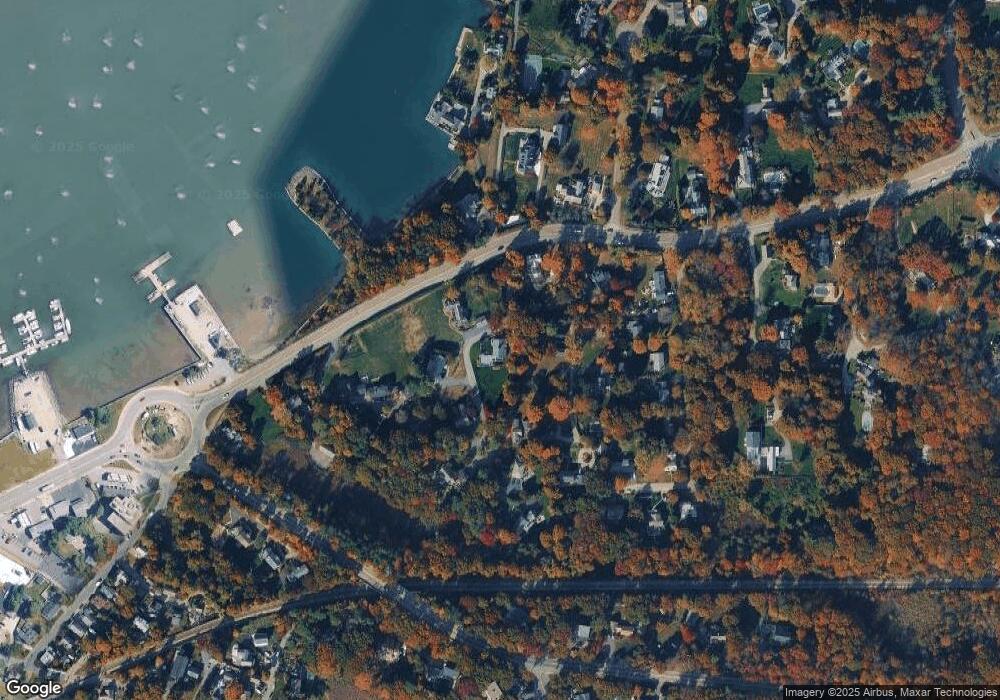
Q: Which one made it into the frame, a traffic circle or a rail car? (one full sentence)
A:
There is a traffic circle in the scene.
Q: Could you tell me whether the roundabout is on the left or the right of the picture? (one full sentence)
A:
You can find the roundabout on the left side of the picture.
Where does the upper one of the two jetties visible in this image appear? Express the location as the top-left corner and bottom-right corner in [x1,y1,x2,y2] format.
[133,252,176,305]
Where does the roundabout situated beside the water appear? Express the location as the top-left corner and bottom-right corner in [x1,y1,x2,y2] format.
[120,389,204,472]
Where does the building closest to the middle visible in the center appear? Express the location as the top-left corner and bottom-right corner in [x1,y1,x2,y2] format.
[479,337,506,369]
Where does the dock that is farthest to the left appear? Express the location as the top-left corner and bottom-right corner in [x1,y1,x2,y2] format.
[0,297,67,376]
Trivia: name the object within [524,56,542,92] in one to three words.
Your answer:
tennis court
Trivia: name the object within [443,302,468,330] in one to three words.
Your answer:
house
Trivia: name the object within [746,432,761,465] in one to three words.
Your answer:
barn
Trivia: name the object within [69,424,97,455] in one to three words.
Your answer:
building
